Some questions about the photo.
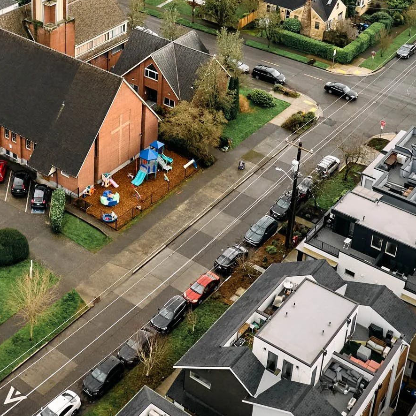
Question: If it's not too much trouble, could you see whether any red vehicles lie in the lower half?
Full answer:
Yes, looking in the lower half, one can make out a red vehicle.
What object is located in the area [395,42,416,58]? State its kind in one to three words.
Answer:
car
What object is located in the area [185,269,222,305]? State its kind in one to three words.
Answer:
car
